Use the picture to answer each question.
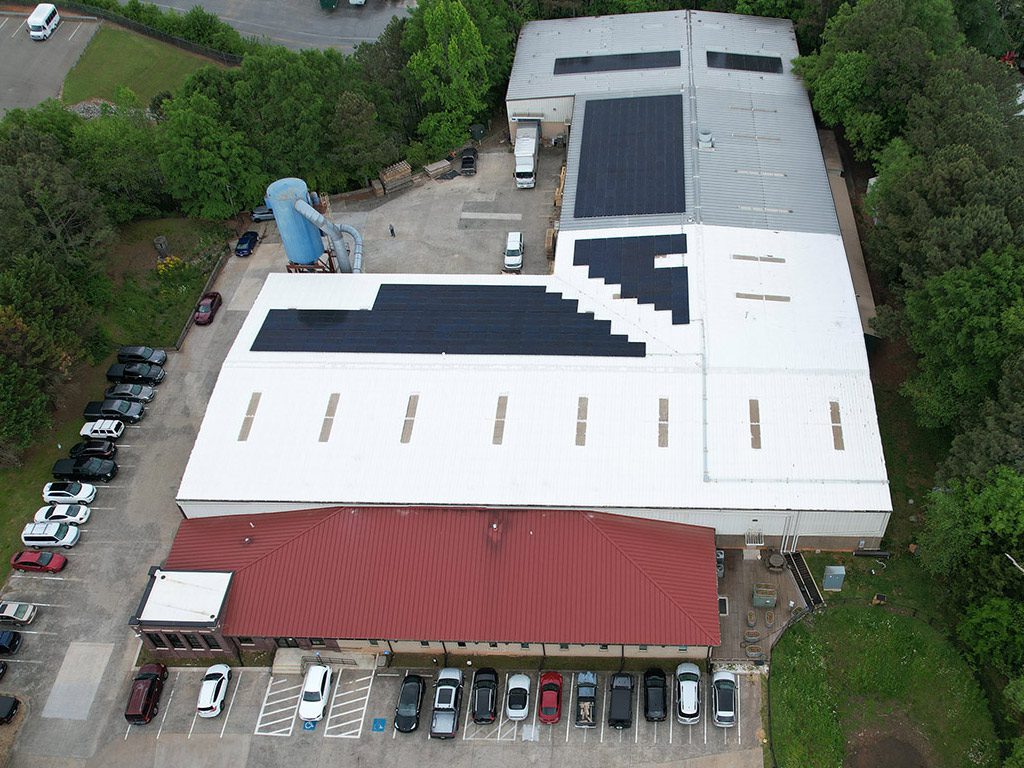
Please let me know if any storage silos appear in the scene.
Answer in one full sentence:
Yes, this view includes a storage silo.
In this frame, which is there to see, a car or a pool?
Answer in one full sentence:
Visible in the photo is a car.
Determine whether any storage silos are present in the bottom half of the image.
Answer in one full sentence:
No, no storage silo is visible in the bottom half of the image.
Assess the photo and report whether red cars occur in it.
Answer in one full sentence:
Yes, you can see a red car in this photo.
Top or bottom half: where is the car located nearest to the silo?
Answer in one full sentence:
The car located nearest to the silo is in the top half of the image.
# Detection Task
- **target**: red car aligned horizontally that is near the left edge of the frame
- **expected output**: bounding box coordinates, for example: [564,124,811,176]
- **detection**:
[9,550,70,577]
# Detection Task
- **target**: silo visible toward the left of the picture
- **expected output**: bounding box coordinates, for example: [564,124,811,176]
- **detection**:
[266,178,364,274]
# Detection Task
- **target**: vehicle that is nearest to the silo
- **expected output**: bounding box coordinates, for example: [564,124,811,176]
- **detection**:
[244,204,276,224]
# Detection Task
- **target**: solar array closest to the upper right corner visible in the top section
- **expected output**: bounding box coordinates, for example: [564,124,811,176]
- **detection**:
[707,49,784,72]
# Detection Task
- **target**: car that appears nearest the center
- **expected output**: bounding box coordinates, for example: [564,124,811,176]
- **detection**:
[504,232,524,267]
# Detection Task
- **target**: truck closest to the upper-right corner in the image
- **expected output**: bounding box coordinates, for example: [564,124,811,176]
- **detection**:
[512,123,538,188]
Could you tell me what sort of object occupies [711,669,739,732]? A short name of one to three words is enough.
car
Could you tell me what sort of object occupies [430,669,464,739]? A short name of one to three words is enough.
truck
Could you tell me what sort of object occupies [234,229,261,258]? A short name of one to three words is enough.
car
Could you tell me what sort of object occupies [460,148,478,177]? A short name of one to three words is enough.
vehicle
